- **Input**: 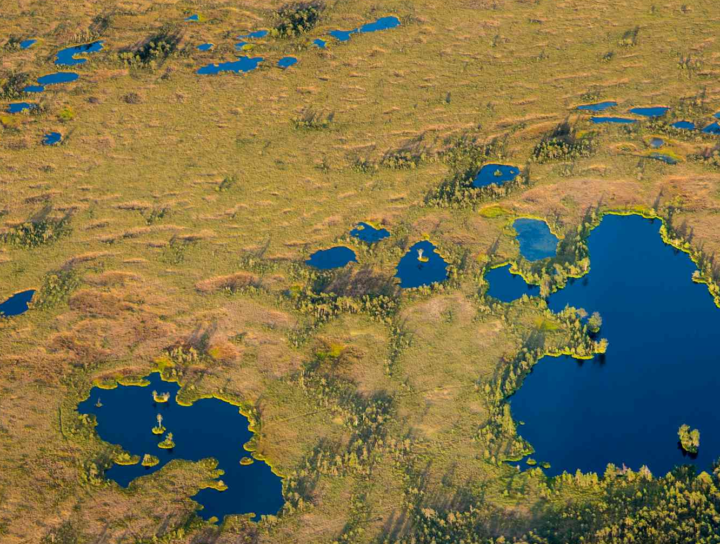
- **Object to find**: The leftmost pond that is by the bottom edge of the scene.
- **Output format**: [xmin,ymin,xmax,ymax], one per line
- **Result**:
[78,373,284,526]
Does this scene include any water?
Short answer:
Yes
